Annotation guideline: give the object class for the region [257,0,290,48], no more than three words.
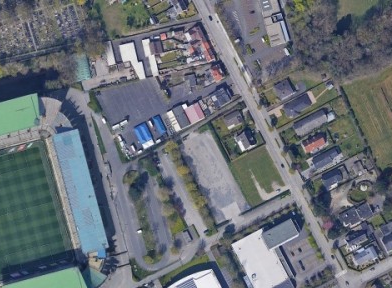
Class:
building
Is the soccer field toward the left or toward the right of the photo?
left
